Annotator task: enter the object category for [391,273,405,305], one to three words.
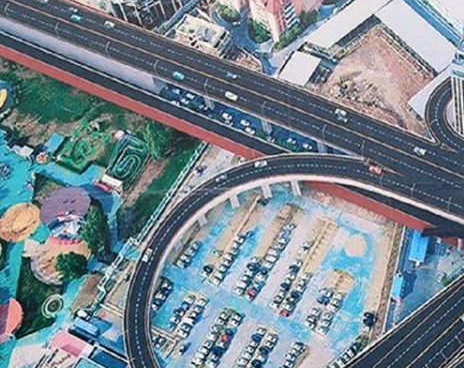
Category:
shed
